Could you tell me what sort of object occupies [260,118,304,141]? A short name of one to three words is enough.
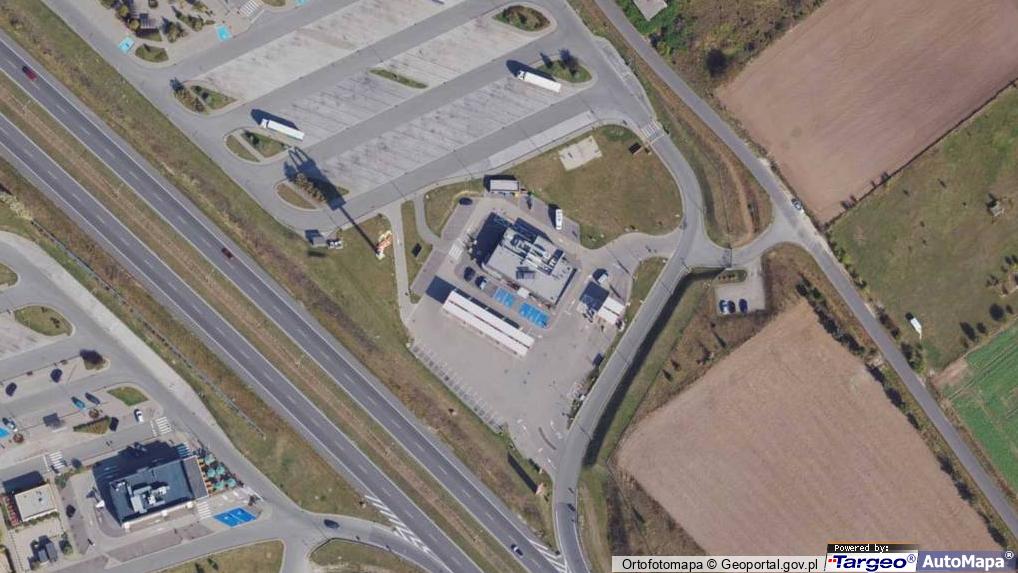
truck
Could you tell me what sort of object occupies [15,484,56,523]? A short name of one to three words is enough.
building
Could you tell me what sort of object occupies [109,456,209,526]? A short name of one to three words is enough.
building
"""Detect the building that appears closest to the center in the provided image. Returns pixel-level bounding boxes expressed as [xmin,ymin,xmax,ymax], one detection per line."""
[481,230,581,308]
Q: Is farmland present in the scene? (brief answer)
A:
Yes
